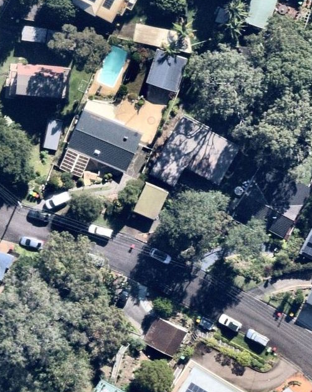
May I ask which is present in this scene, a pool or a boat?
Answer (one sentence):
The one in the frame is a pool.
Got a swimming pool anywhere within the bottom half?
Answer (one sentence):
No, no swimming pool can be made out within the bottom half.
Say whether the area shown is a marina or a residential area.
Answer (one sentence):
The area seen from above is a residential area.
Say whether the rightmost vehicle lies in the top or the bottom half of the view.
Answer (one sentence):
The rightmost vehicle is in the bottom half of the image.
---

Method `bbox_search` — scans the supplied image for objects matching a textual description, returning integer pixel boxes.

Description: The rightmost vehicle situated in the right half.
[244,329,270,349]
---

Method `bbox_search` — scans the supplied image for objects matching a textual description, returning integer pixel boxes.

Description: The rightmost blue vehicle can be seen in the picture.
[196,317,215,330]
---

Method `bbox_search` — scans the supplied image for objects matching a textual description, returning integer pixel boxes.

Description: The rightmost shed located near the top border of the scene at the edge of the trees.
[245,0,277,27]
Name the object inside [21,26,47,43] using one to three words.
shed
